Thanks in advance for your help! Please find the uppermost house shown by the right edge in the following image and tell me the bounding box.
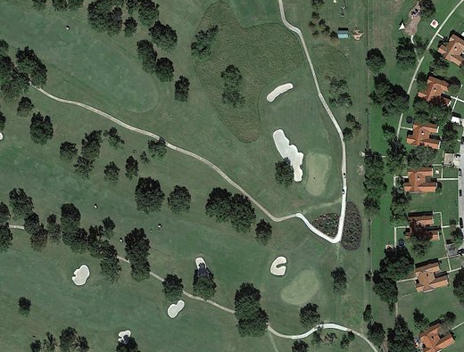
[438,34,464,67]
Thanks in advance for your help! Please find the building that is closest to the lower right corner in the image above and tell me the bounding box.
[418,322,457,352]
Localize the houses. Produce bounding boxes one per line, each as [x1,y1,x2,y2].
[418,322,457,352]
[417,72,453,105]
[404,215,440,240]
[415,260,450,294]
[407,122,441,148]
[438,34,464,67]
[404,166,438,192]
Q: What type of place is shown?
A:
golf course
